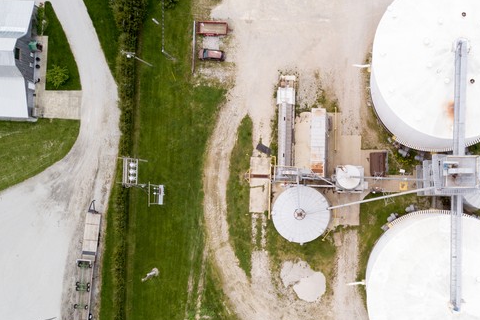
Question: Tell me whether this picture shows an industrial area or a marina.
industrial area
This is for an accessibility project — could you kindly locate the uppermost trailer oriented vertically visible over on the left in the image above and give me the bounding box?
[81,199,102,258]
